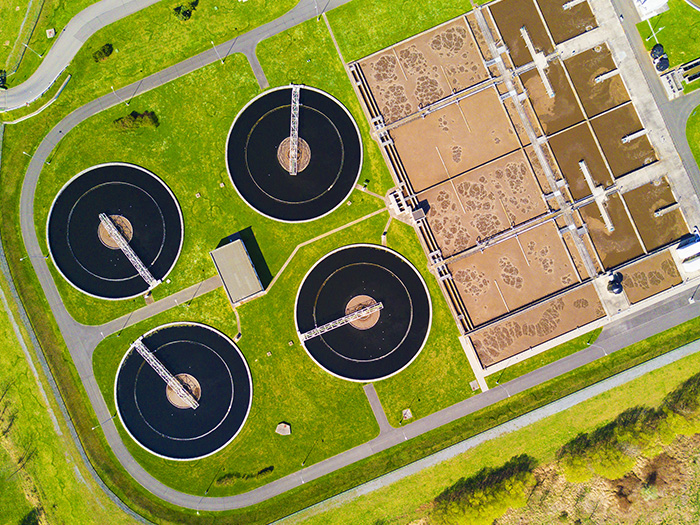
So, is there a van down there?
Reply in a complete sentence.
No, I can't see a single van in this photo.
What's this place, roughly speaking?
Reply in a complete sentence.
What you see here is an industrial area.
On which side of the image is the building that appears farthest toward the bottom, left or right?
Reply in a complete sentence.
It is on the left.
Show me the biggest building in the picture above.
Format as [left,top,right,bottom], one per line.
[211,239,266,303]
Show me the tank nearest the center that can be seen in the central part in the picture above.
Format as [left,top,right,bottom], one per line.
[295,243,432,381]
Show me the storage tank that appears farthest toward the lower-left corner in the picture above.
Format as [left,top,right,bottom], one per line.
[115,322,253,460]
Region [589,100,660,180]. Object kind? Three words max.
storage tank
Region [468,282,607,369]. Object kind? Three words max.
storage tank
